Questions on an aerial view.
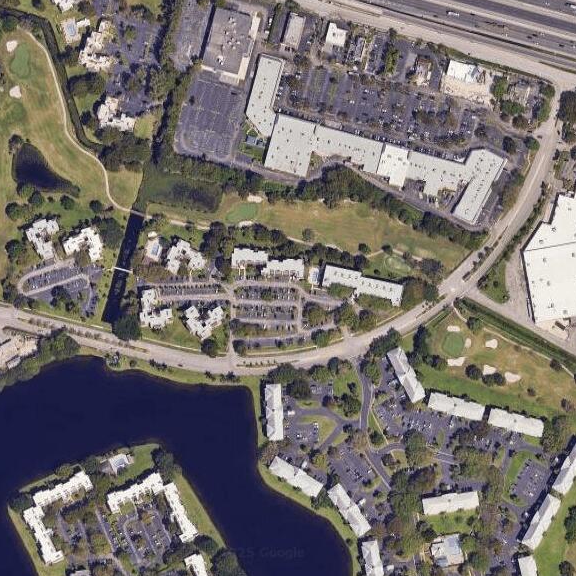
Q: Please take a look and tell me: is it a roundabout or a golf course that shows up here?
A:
golf course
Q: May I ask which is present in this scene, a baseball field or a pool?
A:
pool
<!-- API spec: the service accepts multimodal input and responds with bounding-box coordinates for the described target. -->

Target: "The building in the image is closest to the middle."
[261,258,306,278]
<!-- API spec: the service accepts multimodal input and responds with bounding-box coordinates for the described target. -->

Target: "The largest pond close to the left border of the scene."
[13,143,77,193]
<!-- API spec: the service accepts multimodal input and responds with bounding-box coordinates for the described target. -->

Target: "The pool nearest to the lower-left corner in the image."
[103,454,128,473]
